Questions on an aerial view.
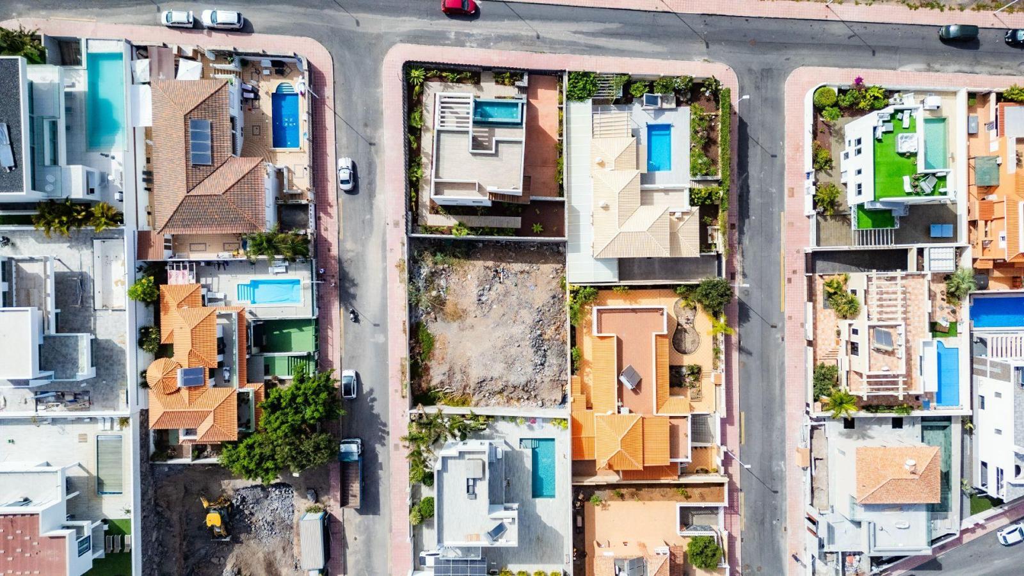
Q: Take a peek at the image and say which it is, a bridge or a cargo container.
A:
cargo container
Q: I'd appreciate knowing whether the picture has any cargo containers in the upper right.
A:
No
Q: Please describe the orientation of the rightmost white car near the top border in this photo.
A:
horizontally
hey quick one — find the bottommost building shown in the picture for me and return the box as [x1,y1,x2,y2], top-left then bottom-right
[593,537,684,576]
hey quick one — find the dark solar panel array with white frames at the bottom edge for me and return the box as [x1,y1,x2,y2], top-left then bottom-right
[434,550,488,576]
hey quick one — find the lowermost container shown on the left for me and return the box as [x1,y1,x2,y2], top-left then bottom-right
[302,509,330,572]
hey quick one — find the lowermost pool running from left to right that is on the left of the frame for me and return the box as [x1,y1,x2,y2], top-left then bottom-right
[234,276,304,307]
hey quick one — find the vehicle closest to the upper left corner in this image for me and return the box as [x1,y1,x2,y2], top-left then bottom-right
[162,10,195,28]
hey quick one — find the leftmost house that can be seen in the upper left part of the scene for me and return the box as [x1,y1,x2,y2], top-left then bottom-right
[0,56,97,201]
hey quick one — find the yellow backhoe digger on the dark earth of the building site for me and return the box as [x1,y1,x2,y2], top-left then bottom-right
[195,489,234,545]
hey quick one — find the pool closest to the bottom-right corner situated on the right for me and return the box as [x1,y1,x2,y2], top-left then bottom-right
[920,418,952,508]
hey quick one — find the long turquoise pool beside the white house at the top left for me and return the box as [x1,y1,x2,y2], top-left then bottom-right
[85,50,126,152]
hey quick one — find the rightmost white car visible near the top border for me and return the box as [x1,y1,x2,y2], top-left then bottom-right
[203,10,244,30]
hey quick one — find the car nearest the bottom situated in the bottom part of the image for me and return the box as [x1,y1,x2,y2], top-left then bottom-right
[419,550,440,569]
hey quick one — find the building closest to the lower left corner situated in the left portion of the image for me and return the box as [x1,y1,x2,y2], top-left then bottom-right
[0,457,108,576]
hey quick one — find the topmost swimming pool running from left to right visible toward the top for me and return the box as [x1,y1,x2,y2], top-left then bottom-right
[473,99,524,123]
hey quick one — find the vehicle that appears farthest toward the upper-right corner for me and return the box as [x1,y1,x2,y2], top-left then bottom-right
[998,27,1024,47]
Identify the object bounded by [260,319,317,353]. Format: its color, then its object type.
green sports court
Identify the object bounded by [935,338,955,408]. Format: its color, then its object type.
blue swimming pool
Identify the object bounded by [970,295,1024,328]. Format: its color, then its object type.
blue swimming pool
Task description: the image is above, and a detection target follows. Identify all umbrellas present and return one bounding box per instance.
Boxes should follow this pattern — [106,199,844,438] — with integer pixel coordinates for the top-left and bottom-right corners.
[131,59,150,84]
[180,58,204,79]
